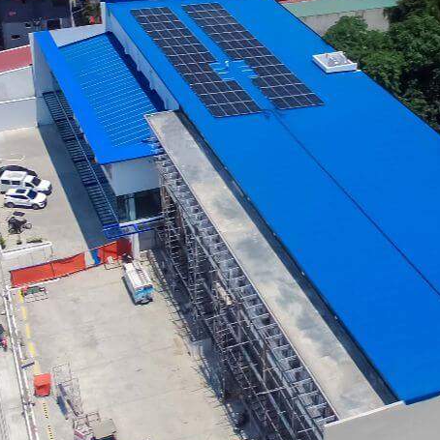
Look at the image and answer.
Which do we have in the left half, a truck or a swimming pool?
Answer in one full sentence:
What appears in the left half is a truck.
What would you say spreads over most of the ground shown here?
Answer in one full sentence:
The bulk of the photo consists of buildings.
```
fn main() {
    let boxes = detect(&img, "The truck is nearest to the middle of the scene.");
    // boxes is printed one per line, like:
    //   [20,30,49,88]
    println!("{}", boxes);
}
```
[119,248,154,299]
